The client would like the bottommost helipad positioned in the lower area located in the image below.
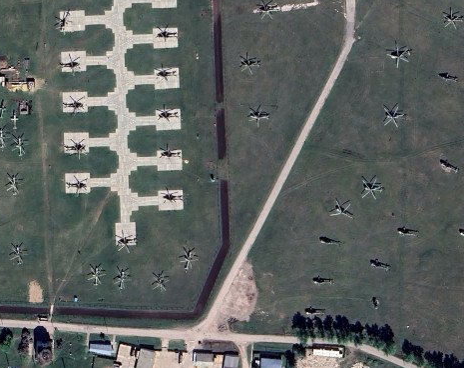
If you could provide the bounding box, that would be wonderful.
[115,223,136,245]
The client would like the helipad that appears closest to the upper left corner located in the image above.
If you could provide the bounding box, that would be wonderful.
[59,11,84,32]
